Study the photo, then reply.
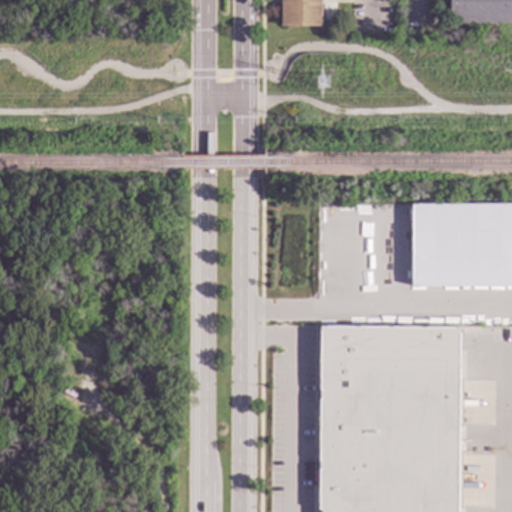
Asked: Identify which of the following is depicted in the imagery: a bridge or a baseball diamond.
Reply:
bridge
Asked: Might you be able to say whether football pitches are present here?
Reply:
No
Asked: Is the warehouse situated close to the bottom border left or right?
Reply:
right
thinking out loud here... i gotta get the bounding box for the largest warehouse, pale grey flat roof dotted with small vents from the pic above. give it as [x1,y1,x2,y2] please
[320,326,466,512]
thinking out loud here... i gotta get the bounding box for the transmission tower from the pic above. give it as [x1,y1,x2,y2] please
[316,62,332,98]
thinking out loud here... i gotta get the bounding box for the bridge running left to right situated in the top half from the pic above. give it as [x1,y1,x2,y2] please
[166,143,289,184]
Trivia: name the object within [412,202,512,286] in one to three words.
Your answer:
building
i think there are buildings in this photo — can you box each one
[452,0,512,23]
[282,0,324,26]
[412,202,512,286]
[320,326,466,512]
